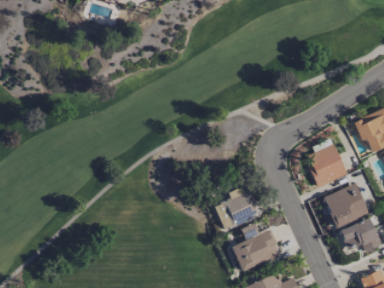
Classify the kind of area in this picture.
golf course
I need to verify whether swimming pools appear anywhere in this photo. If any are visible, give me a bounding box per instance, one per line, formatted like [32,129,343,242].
[352,132,368,153]
[374,160,384,178]
[89,4,111,18]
